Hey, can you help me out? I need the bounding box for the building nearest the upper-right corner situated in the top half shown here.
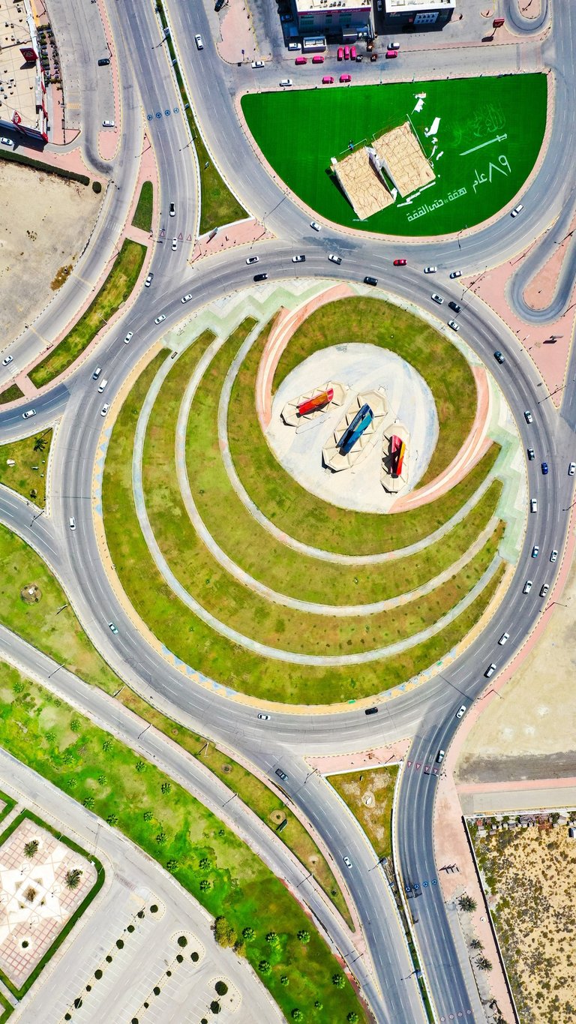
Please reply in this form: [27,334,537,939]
[381,0,455,28]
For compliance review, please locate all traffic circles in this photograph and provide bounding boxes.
[49,234,572,758]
